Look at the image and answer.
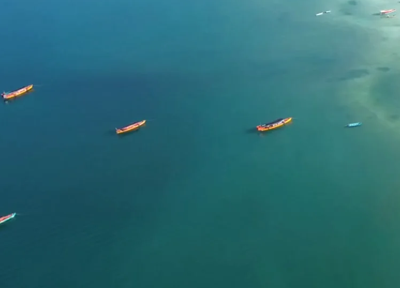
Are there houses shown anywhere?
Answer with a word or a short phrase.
No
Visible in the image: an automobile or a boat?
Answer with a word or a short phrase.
boat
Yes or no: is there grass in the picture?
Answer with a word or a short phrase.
No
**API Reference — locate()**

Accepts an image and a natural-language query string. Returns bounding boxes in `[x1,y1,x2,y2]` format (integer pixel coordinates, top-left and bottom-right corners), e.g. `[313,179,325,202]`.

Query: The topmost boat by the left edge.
[1,83,33,99]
